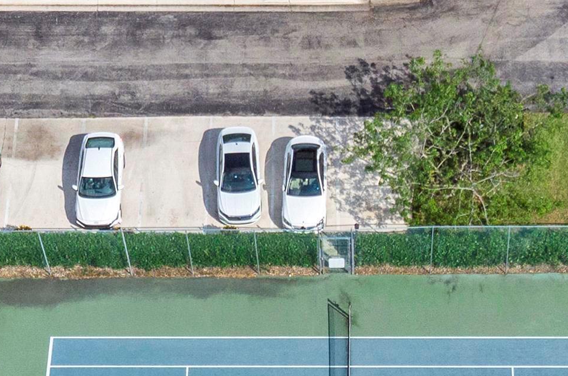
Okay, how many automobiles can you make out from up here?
3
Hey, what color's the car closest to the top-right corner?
white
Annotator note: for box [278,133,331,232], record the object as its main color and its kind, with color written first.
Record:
white car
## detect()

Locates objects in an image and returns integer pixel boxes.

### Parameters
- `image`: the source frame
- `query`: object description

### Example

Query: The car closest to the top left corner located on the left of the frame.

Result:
[71,131,127,229]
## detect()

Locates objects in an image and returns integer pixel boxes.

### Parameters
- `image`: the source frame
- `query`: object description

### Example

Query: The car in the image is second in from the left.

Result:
[212,125,265,226]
